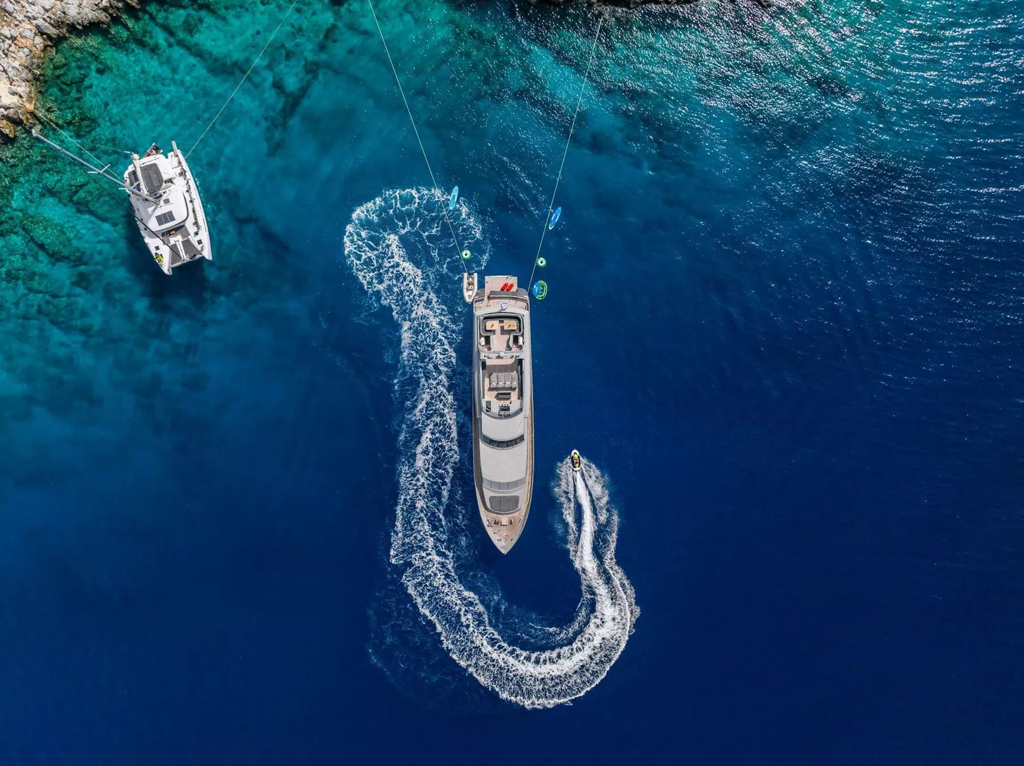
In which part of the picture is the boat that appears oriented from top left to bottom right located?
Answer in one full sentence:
The boat that appears oriented from top left to bottom right is in the top left part of the image.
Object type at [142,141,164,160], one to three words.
boat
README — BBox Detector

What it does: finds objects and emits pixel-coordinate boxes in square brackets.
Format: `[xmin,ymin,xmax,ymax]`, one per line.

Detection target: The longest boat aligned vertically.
[473,275,534,554]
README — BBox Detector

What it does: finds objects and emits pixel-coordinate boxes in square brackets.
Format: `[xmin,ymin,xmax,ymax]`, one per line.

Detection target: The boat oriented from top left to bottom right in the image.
[25,125,219,275]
